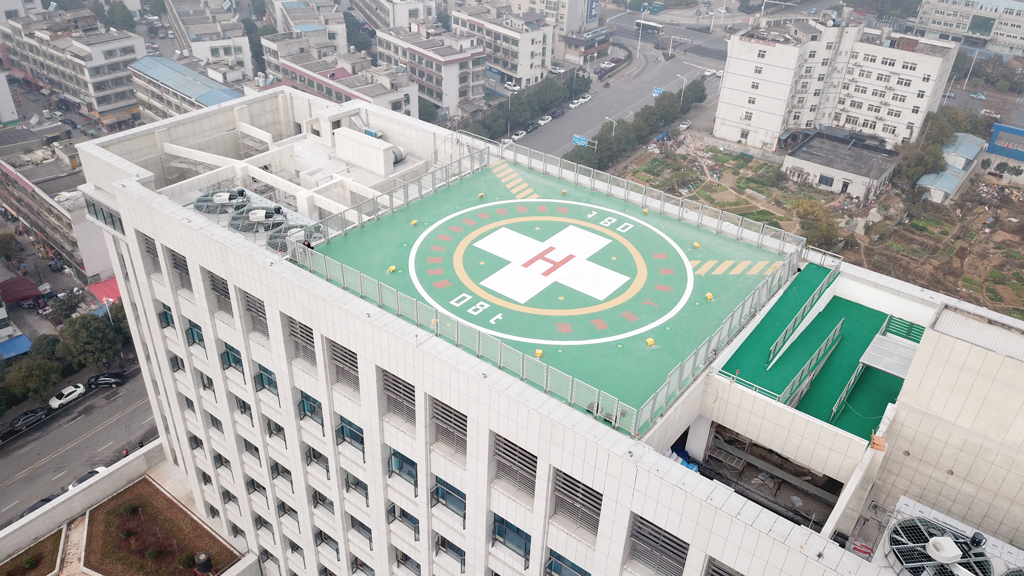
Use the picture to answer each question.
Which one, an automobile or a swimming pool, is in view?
automobile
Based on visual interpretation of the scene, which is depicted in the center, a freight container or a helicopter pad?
helicopter pad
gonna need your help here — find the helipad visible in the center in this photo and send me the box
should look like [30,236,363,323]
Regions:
[289,160,800,440]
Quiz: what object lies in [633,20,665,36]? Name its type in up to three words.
vehicle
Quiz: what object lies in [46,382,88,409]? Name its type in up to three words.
car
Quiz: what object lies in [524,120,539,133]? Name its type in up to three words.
vehicle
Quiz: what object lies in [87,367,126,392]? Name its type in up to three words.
car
